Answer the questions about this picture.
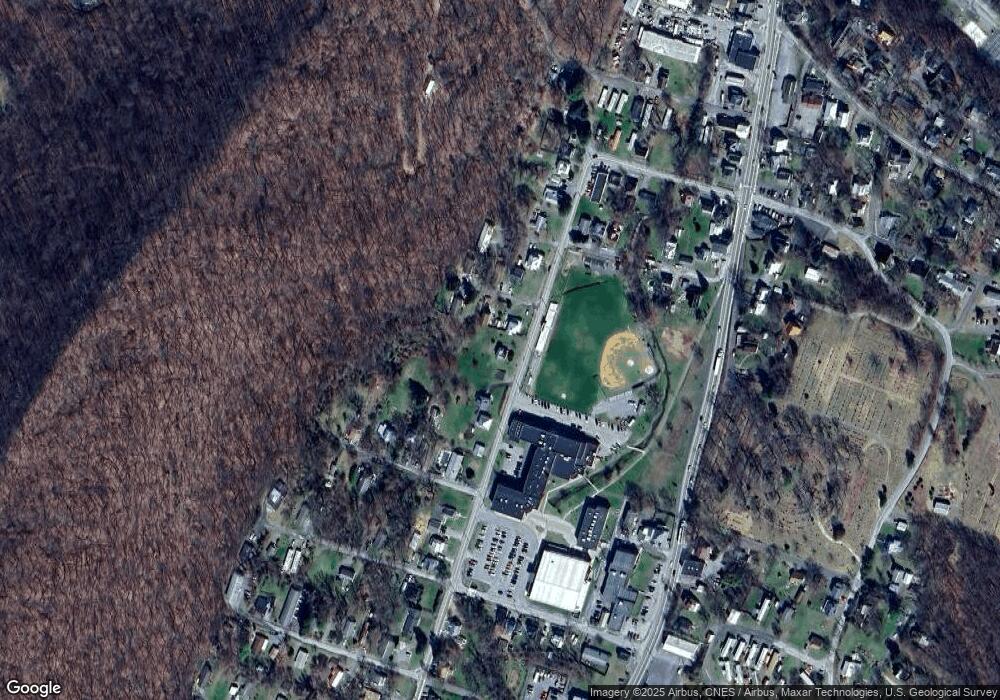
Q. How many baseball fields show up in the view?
1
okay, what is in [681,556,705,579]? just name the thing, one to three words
house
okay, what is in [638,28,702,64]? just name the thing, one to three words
building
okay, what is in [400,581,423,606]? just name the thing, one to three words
house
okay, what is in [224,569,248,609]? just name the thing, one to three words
building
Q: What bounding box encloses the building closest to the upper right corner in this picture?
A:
[963,21,987,46]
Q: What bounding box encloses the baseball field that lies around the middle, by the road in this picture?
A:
[533,276,657,412]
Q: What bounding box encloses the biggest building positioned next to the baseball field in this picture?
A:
[491,421,600,520]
